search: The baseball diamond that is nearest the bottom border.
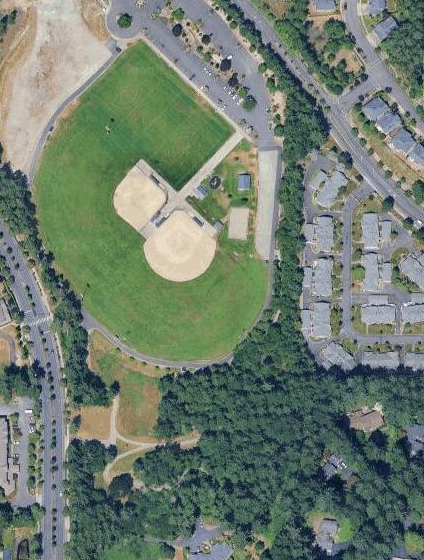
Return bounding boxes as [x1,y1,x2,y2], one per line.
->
[71,211,270,363]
